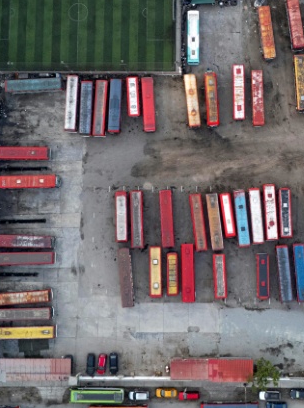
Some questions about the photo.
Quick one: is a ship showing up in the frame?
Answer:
No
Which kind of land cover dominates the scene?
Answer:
paved ground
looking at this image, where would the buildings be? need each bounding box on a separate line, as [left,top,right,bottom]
[0,353,74,382]
[170,355,253,382]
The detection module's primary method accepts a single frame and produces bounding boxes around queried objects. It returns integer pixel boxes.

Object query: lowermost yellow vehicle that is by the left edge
[0,322,59,339]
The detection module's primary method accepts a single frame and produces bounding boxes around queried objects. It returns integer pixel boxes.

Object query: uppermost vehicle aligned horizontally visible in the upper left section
[5,78,65,94]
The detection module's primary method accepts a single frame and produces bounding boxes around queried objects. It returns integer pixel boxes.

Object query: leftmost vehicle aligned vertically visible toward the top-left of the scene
[63,76,81,133]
